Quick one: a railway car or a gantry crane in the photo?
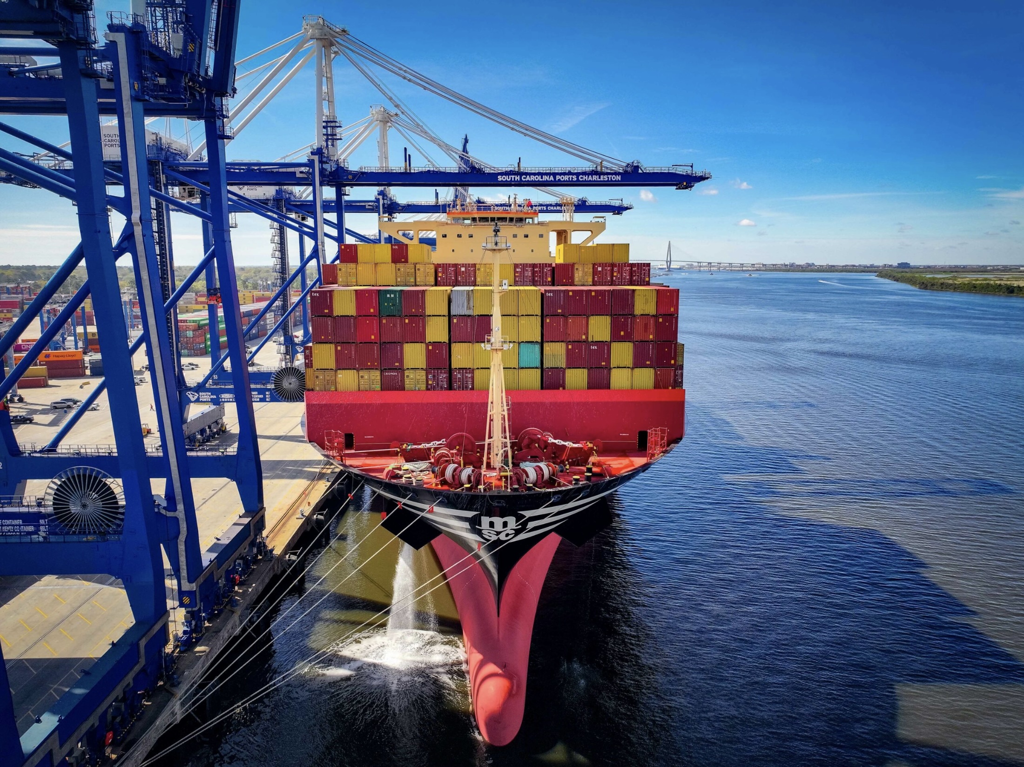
gantry crane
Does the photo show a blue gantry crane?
Yes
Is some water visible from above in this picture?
Yes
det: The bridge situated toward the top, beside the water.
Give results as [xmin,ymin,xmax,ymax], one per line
[626,241,1010,270]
